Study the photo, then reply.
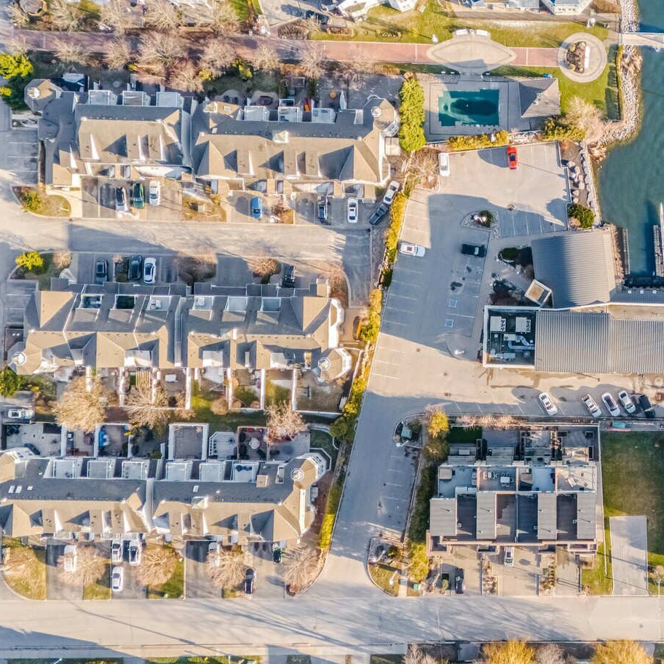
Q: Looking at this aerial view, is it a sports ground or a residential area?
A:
residential area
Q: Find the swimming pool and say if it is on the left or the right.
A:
right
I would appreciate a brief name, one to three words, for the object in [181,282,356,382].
house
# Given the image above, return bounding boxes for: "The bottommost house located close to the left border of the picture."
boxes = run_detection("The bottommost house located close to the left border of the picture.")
[0,447,167,545]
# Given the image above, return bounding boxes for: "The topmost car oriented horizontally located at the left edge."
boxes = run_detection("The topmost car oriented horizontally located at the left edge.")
[8,408,35,421]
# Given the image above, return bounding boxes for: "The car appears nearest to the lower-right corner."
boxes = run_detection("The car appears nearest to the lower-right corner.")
[503,545,515,571]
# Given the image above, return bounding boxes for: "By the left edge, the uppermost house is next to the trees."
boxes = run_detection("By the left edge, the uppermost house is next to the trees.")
[25,81,199,190]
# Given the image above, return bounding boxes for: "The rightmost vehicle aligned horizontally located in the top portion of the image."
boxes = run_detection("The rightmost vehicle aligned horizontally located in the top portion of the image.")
[459,244,489,257]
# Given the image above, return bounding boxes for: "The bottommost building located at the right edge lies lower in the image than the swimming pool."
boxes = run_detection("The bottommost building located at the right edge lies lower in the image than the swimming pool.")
[482,232,664,375]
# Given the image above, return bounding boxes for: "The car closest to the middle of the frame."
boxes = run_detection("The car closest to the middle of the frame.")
[282,264,296,287]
